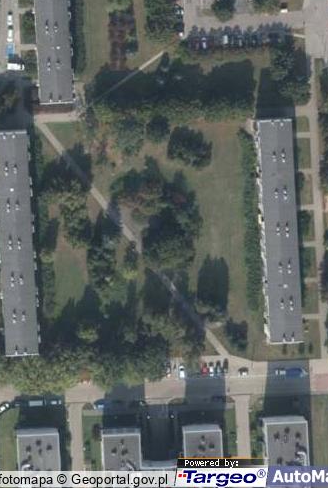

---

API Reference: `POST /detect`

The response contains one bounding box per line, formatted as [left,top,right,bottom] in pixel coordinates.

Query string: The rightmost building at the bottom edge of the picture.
[257,417,307,488]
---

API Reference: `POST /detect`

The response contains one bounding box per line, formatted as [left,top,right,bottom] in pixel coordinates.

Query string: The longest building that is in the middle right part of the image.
[250,120,302,344]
